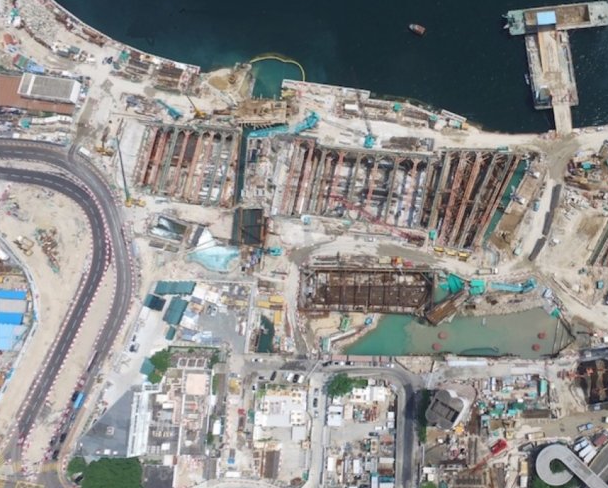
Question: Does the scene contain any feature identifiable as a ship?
Yes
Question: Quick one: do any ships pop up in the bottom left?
No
